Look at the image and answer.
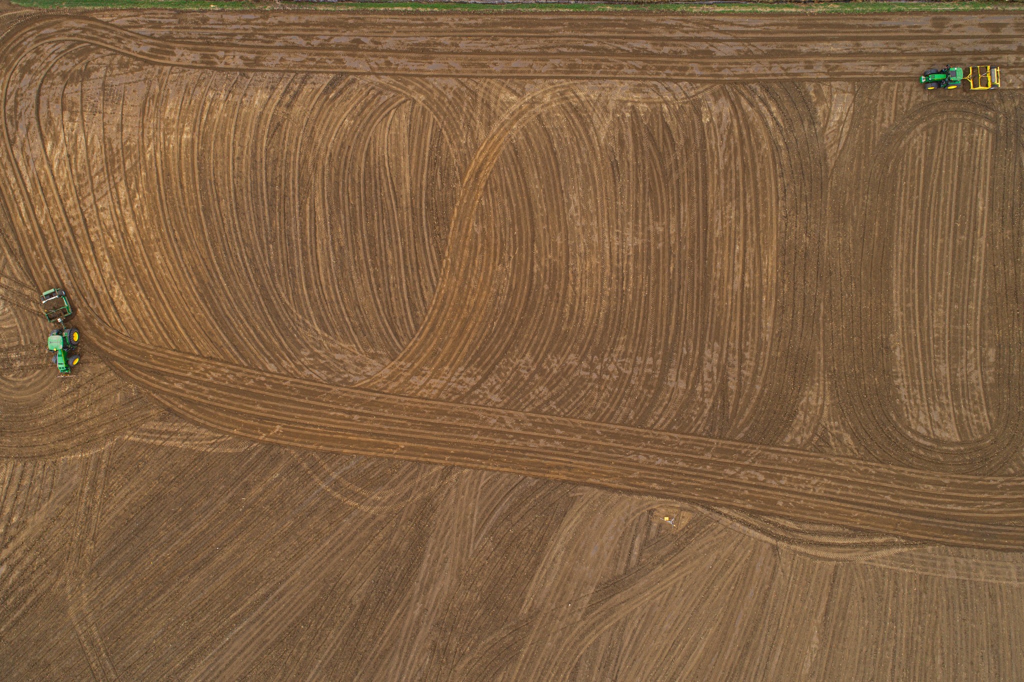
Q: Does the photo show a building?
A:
No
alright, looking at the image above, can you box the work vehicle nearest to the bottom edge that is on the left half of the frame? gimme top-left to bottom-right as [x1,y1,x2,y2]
[48,328,82,378]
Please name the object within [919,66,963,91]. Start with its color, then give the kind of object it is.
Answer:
green work vehicle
